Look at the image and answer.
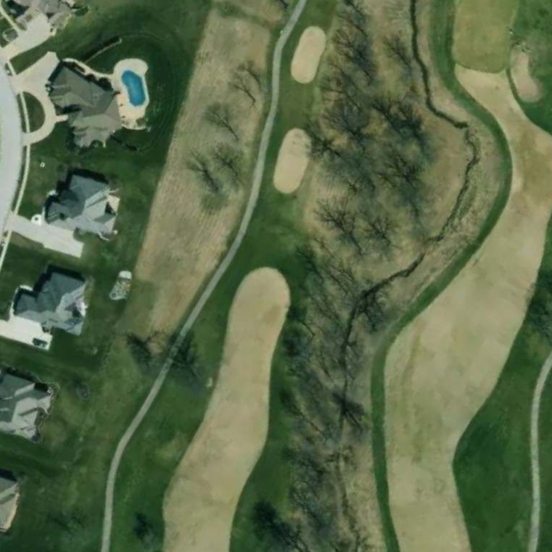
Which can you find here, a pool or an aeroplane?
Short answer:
pool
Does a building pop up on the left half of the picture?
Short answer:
Yes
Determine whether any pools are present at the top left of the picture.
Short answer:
Yes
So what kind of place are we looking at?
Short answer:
golf course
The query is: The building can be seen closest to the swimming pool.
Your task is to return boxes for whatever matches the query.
[45,63,120,147]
